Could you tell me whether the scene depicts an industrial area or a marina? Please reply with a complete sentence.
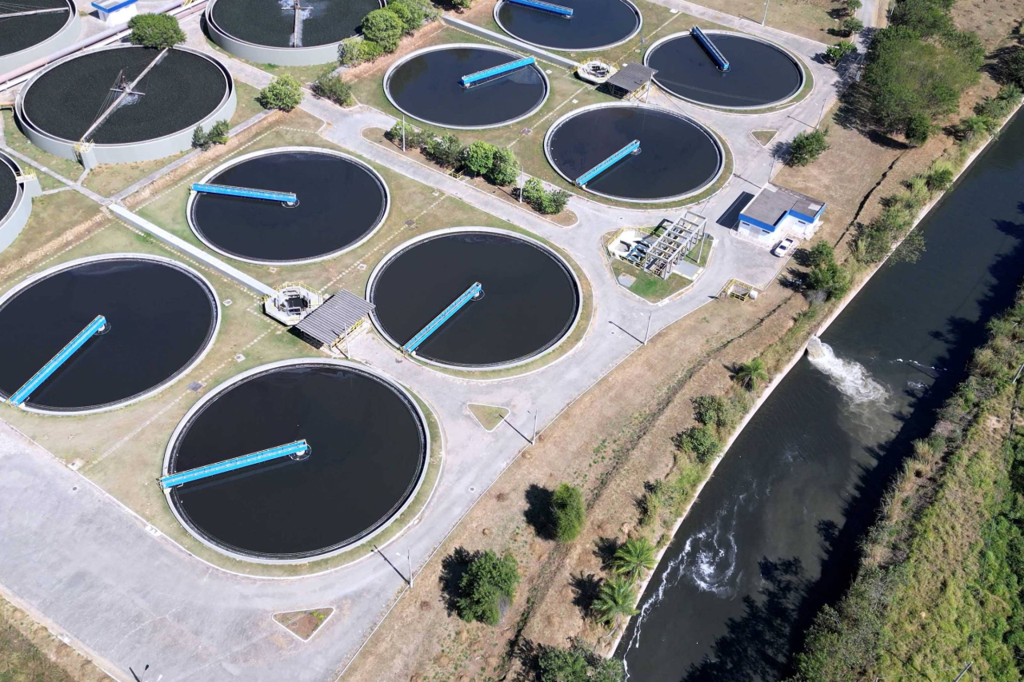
What you see here is an industrial area.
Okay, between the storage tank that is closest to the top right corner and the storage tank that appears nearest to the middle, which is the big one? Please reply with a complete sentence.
The storage tank that appears nearest to the middle is bigger than the storage tank that is closest to the top right corner.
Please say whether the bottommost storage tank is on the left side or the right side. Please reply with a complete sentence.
The bottommost storage tank appears in the left half of the scene.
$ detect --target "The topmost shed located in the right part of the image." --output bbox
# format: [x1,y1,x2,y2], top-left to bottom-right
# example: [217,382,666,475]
[607,62,658,108]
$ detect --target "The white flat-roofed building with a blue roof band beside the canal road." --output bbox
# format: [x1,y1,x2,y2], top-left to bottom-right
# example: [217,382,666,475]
[737,181,825,245]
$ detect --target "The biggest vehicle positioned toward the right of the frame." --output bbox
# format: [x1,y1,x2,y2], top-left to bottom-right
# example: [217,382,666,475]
[776,232,795,251]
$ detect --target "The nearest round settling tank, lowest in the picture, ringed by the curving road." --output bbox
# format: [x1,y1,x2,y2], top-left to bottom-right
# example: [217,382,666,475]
[155,359,428,564]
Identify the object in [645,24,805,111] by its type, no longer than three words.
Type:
storage tank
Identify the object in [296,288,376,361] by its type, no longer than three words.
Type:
shed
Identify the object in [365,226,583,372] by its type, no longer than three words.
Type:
storage tank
